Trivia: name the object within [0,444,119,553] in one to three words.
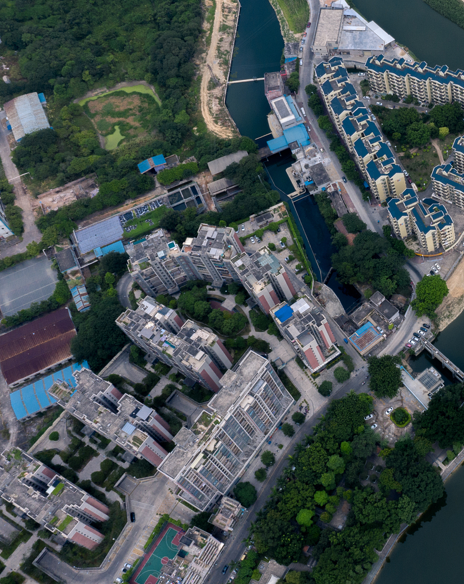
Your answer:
building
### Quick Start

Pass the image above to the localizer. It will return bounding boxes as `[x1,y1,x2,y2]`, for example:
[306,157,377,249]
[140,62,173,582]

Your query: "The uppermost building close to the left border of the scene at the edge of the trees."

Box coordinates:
[3,92,49,130]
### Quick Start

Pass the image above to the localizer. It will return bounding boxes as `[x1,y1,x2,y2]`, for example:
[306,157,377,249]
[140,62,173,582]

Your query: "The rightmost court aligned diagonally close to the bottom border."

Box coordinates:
[132,523,184,584]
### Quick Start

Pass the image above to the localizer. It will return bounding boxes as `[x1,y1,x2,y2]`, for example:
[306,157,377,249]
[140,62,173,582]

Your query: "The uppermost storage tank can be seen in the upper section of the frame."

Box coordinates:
[167,182,206,212]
